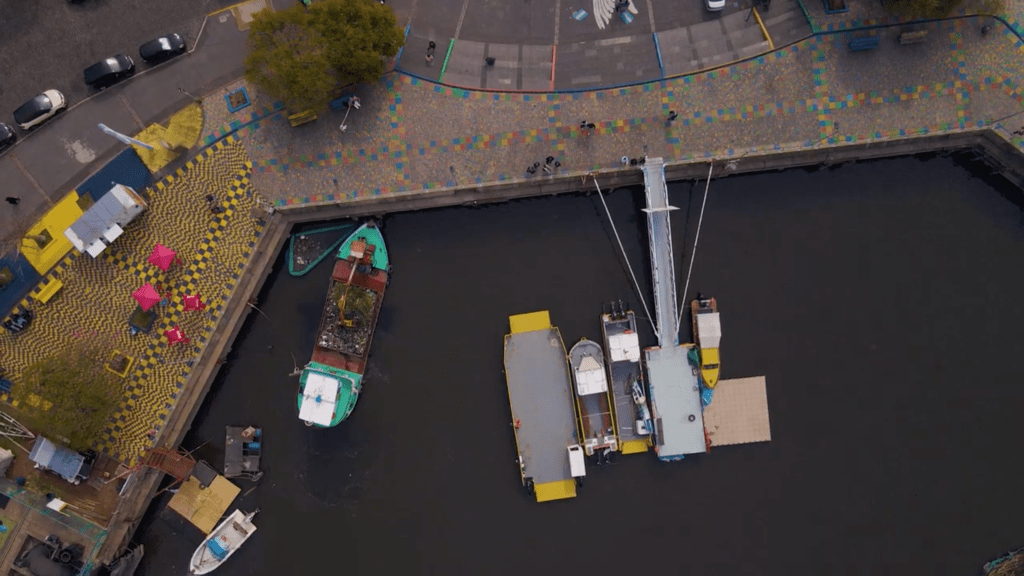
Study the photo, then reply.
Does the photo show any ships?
Yes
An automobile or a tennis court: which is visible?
automobile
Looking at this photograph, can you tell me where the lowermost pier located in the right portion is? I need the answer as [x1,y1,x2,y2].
[644,343,712,461]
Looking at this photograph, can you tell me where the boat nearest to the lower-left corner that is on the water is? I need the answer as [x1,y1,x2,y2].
[190,511,257,576]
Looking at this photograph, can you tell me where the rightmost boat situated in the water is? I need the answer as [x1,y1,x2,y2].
[692,292,722,389]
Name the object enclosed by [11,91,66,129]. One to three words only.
car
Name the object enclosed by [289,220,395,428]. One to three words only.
boat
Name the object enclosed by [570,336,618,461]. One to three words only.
boat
